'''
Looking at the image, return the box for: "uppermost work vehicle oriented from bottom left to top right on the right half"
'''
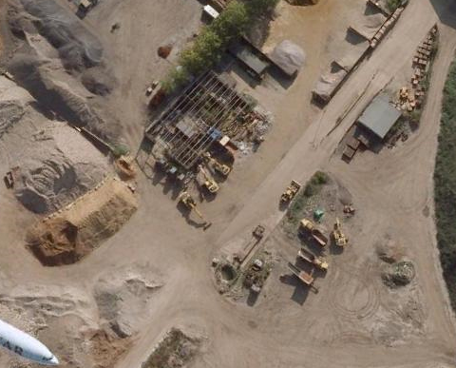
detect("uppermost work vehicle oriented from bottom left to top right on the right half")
[283,177,302,202]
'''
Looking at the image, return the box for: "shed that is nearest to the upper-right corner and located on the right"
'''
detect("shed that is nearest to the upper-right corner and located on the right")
[360,96,400,137]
